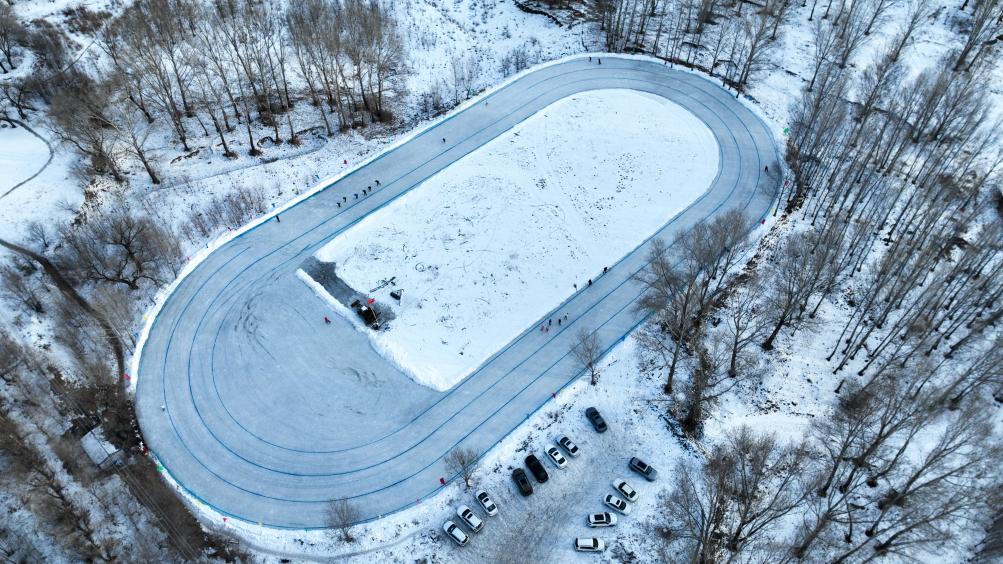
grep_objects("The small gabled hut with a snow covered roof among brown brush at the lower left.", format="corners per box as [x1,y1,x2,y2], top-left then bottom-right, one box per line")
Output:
[84,428,124,469]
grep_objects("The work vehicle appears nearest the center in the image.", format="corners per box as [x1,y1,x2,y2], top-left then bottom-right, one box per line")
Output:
[351,300,379,329]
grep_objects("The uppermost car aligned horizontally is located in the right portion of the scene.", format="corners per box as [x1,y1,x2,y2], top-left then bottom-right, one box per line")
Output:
[586,511,619,528]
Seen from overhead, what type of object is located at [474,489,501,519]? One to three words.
car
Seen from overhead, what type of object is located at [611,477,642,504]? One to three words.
car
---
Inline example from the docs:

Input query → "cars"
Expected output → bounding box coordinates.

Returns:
[525,454,550,484]
[573,536,606,552]
[544,443,570,471]
[585,406,609,434]
[611,477,642,504]
[555,433,582,459]
[474,489,501,519]
[441,520,471,548]
[601,490,633,518]
[455,504,485,534]
[511,467,535,497]
[629,454,658,483]
[586,511,619,528]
